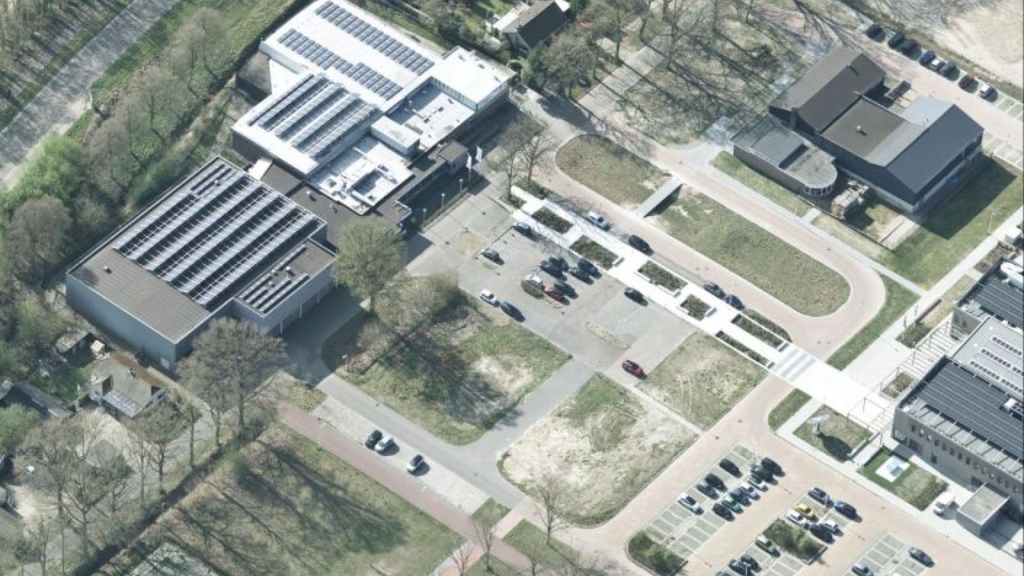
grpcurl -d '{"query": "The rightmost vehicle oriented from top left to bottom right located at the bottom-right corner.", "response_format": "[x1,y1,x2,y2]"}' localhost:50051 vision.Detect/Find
[907,546,934,567]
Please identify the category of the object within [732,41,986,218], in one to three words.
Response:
building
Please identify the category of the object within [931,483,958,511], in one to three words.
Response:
vehicle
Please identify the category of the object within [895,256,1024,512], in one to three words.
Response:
building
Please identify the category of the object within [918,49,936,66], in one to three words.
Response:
car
